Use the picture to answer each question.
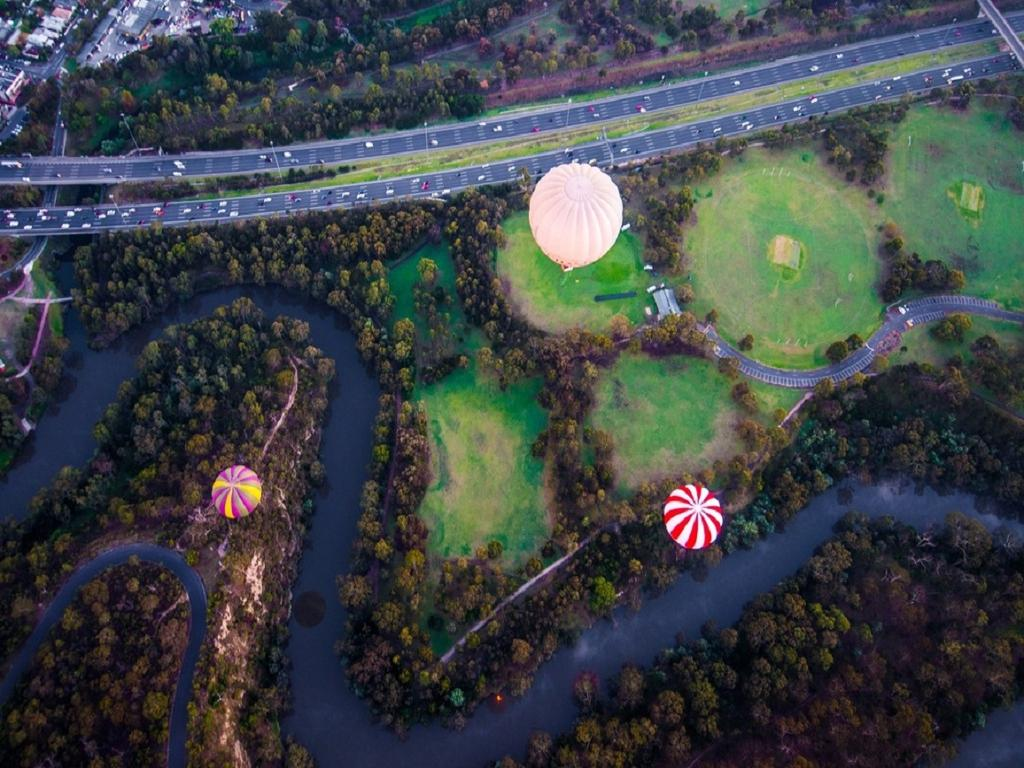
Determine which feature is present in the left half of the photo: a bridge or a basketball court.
bridge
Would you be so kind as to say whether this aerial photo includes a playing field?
Yes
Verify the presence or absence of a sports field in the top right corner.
Yes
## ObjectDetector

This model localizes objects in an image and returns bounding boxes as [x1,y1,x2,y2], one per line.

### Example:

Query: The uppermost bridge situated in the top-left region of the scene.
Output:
[0,150,208,190]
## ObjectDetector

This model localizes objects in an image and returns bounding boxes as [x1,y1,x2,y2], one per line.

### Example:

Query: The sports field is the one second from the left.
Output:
[497,213,648,334]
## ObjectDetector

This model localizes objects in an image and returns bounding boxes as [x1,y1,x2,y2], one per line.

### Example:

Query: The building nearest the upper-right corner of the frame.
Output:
[651,289,681,318]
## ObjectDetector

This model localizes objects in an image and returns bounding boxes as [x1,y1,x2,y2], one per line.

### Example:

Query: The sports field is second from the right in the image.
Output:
[686,147,882,357]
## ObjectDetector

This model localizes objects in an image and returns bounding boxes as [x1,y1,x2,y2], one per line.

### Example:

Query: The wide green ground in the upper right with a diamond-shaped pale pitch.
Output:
[880,103,1024,300]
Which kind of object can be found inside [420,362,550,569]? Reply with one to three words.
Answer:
sports field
